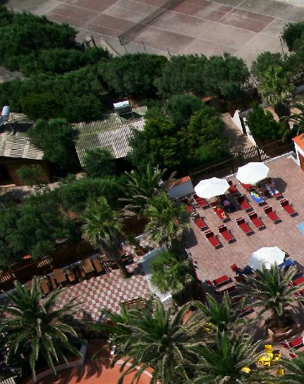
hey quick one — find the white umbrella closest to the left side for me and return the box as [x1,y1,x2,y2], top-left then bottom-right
[197,177,232,206]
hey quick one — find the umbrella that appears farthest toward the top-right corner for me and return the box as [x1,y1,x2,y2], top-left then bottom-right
[240,163,274,193]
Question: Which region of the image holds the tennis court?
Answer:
top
